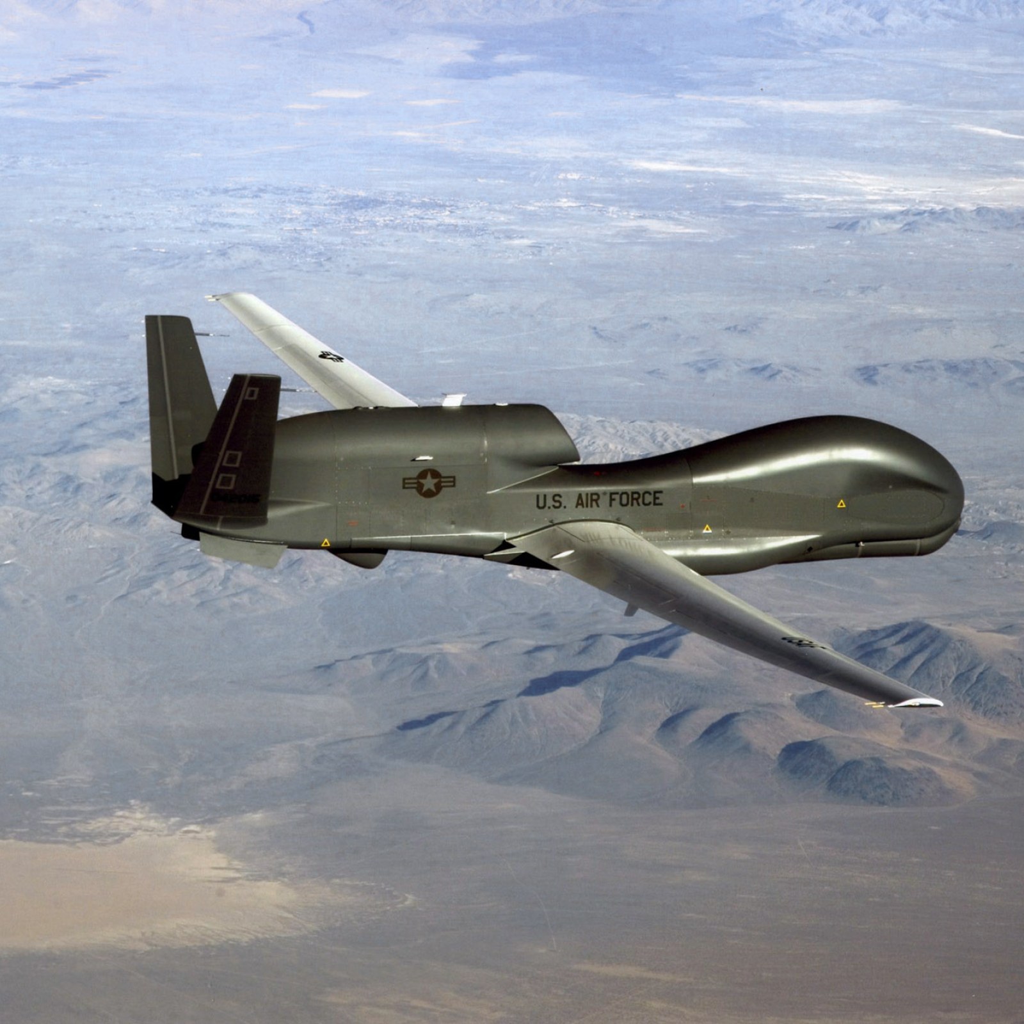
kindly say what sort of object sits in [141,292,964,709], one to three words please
airplane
